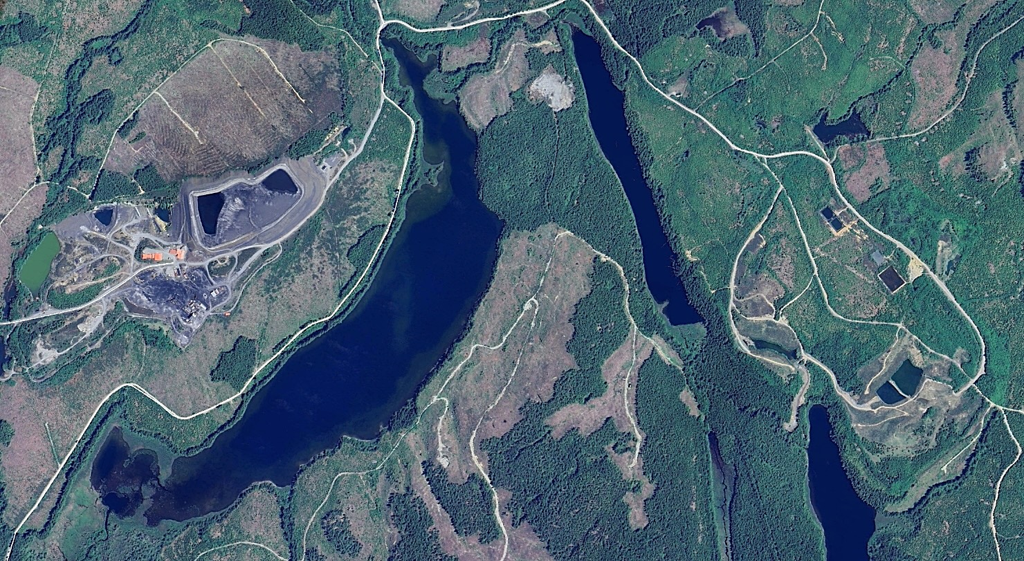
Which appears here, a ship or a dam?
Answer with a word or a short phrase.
dam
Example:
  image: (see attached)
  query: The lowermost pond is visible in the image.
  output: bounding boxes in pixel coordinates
[90,427,166,518]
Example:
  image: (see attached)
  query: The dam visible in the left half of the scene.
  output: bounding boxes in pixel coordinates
[183,157,311,256]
